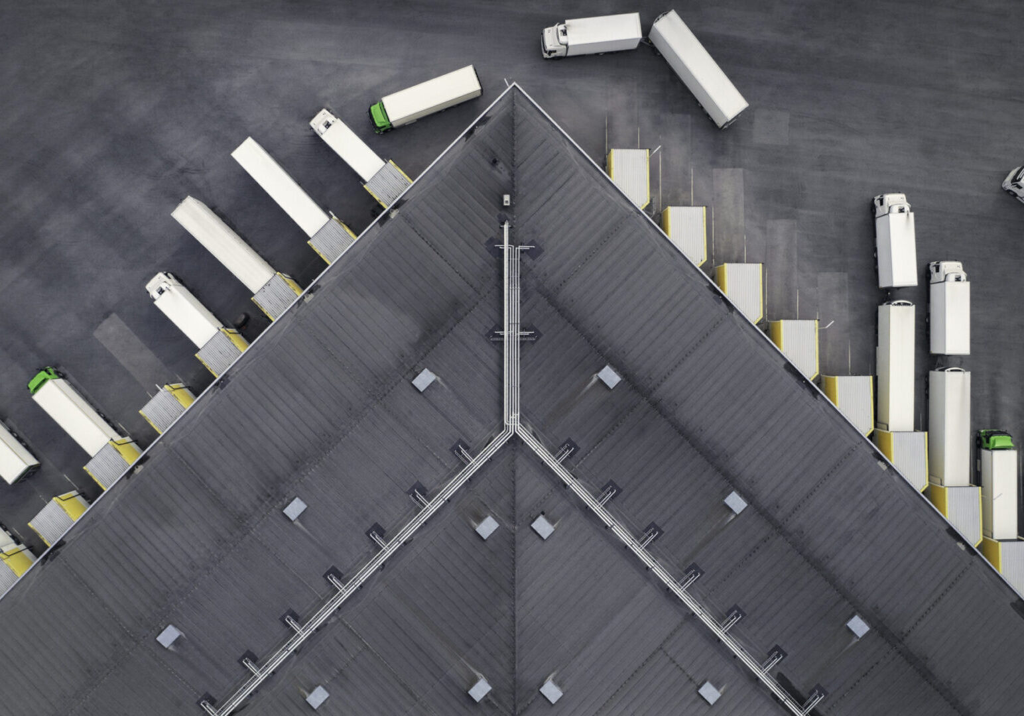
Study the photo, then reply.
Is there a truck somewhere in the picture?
Yes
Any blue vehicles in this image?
No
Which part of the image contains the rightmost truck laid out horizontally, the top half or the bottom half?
top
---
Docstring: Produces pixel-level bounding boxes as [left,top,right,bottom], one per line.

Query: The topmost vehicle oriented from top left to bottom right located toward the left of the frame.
[309,107,385,182]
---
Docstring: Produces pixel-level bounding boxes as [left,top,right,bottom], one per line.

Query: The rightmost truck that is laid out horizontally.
[542,12,642,60]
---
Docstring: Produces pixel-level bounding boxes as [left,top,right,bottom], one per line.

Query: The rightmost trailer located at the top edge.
[645,9,748,129]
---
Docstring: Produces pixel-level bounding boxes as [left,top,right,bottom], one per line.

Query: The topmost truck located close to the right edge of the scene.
[1002,172,1024,210]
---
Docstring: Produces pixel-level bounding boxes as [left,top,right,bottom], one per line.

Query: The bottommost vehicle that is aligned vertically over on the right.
[970,424,1018,538]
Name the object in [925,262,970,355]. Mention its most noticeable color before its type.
white truck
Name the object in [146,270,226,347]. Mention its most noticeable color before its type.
white truck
